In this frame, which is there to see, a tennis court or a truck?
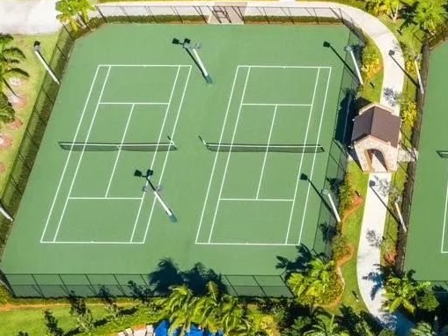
tennis court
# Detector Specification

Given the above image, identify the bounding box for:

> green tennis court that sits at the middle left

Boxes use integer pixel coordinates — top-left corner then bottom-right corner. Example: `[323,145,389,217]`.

[0,22,223,297]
